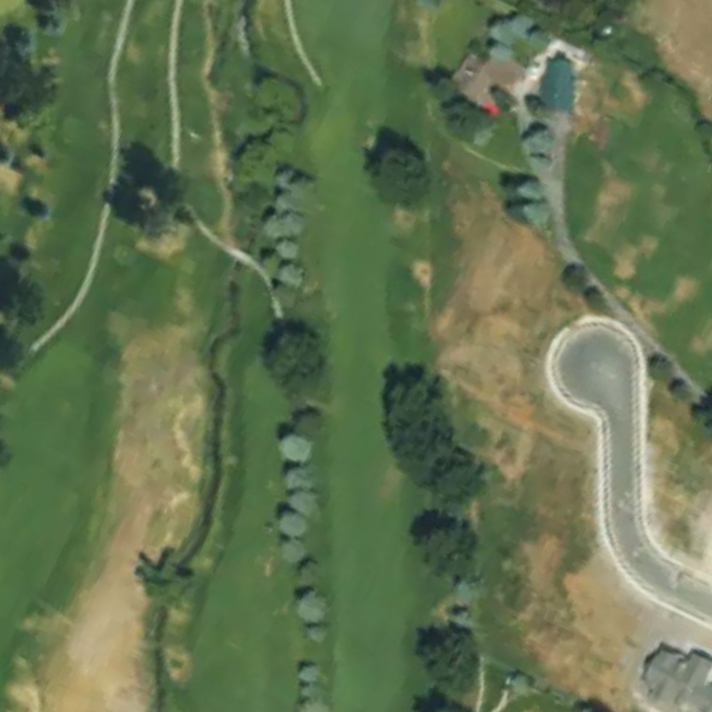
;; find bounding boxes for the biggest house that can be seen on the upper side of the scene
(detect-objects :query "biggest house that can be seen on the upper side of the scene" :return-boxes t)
[451,52,528,108]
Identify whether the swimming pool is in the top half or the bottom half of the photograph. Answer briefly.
top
